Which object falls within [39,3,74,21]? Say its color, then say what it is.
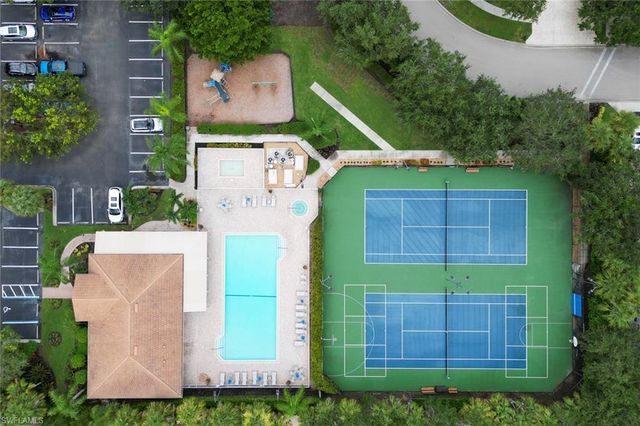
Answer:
blue car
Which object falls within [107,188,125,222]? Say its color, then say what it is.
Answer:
white car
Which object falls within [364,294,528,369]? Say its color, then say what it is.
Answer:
blue tennis court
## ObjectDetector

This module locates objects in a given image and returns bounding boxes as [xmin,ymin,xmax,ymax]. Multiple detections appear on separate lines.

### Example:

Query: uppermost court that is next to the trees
[364,189,528,265]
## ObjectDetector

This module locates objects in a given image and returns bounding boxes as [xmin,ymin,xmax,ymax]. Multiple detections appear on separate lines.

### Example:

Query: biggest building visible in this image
[71,254,186,399]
